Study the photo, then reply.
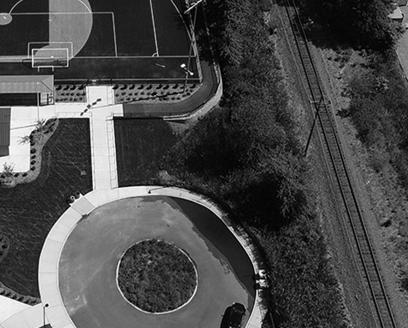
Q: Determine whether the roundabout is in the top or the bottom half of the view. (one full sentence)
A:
You can find the roundabout in the bottom half.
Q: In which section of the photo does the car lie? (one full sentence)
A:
The car is located in the bottom region of the scene.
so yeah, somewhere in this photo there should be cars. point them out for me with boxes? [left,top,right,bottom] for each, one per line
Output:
[220,303,246,328]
